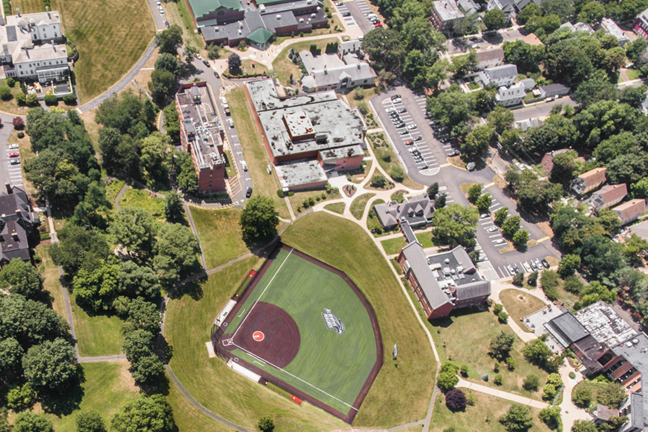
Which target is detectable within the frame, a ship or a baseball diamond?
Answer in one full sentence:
The image shows a baseball diamond.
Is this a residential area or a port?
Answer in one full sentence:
It's a residential area.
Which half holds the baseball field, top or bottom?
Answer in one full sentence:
It is in the bottom half that the baseball field appears.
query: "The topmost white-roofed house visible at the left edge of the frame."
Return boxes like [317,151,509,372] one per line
[0,4,69,79]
